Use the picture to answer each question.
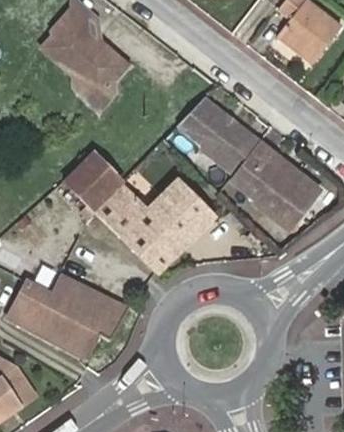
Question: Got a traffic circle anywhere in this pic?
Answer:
Yes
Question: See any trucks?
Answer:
Yes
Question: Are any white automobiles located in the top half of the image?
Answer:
Yes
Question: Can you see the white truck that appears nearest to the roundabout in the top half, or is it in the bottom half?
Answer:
bottom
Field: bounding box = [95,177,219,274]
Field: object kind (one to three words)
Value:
house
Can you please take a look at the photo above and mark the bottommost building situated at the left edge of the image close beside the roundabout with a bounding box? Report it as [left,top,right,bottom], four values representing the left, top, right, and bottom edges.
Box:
[4,272,128,363]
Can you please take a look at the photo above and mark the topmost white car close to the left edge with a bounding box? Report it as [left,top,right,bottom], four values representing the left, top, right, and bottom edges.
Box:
[0,285,14,306]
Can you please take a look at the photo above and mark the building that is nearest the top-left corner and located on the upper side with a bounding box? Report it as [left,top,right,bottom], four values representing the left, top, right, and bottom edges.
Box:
[40,0,134,117]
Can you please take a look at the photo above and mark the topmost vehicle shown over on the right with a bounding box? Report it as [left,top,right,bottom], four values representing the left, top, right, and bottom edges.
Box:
[262,22,278,42]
